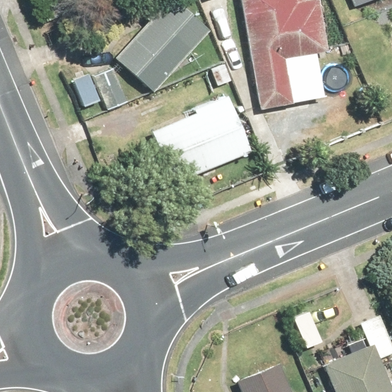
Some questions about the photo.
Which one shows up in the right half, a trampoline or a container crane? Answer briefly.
trampoline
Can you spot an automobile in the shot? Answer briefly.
Yes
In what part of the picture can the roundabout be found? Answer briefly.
bottom left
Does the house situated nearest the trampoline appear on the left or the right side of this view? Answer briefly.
right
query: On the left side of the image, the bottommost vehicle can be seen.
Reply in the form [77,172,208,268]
[80,51,114,70]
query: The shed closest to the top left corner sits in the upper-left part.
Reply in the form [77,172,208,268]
[72,74,100,108]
